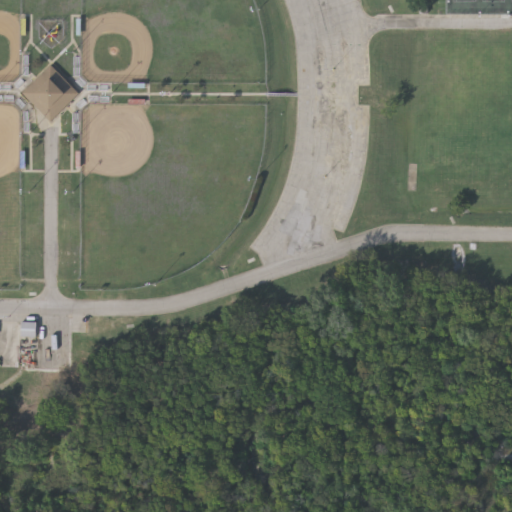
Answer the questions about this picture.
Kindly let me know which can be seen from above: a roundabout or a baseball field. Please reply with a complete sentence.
The one in the frame is a baseball field.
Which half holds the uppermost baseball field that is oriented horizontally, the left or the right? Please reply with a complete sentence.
You can find the uppermost baseball field that is oriented horizontally on the left side of the picture.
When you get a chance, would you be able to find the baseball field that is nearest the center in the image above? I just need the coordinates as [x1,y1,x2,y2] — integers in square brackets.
[80,104,266,290]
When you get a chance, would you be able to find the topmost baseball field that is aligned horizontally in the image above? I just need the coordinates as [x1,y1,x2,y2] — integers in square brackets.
[80,0,266,83]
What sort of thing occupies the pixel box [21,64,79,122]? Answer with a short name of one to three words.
building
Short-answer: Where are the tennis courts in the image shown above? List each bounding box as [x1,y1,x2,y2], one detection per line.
[448,0,479,14]
[479,0,512,14]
